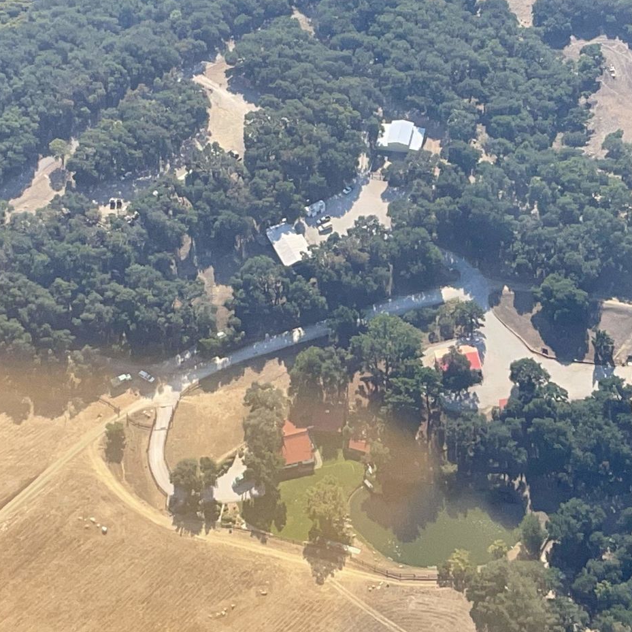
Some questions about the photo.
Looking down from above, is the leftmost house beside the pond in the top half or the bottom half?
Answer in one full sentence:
Seen from above, the leftmost house beside the pond lies in the bottom half of the view.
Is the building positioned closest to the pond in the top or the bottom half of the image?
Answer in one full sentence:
You can find the building positioned closest to the pond in the bottom half.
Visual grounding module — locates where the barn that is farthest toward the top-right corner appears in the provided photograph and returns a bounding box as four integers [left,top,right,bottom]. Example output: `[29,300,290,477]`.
[372,114,431,155]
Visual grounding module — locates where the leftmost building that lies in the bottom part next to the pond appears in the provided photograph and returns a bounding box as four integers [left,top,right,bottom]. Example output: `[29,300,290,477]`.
[277,403,351,482]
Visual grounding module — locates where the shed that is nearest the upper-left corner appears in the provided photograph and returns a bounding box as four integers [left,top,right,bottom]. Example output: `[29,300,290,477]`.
[257,219,317,265]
